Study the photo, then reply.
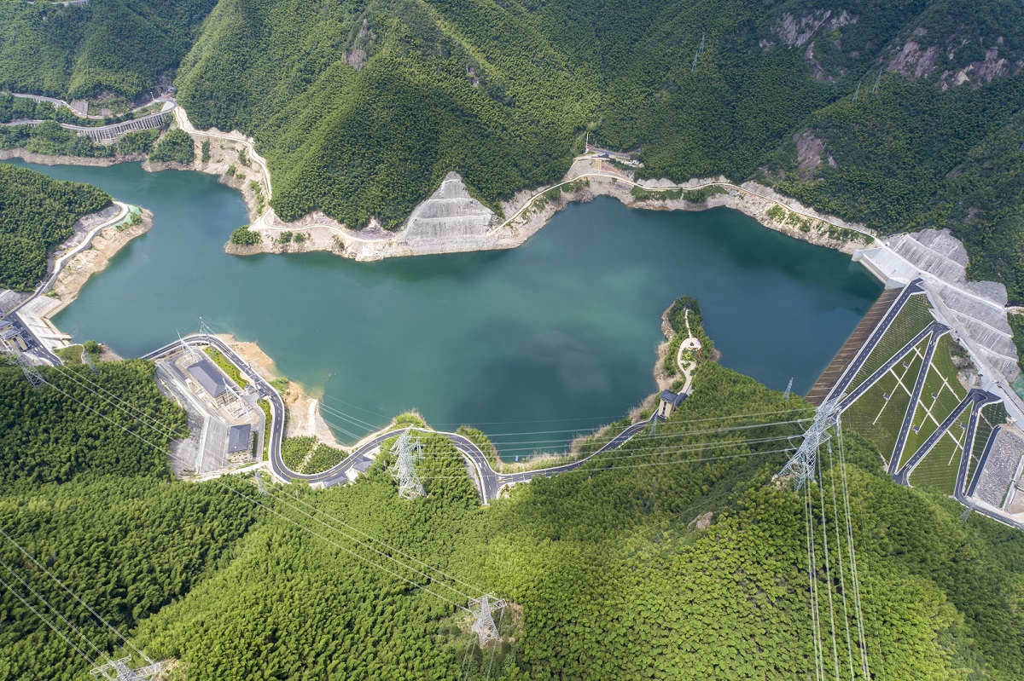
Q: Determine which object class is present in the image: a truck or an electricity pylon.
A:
electricity pylon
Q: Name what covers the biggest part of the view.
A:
trees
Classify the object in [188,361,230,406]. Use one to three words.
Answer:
building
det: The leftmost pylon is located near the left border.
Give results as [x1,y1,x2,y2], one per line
[6,347,43,382]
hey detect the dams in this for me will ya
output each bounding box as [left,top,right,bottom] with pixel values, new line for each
[810,278,1024,527]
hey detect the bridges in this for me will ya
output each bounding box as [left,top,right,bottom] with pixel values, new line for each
[0,105,176,140]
